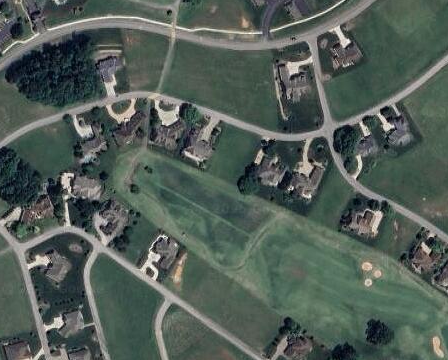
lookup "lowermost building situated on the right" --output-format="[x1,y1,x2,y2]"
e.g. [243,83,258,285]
[283,336,312,360]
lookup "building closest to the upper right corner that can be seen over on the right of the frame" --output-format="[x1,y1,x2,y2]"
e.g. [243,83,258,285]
[332,41,364,66]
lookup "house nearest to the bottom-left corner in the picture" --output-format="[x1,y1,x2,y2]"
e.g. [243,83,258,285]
[5,339,32,360]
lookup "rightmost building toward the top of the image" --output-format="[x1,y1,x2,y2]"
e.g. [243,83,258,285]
[384,116,416,146]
